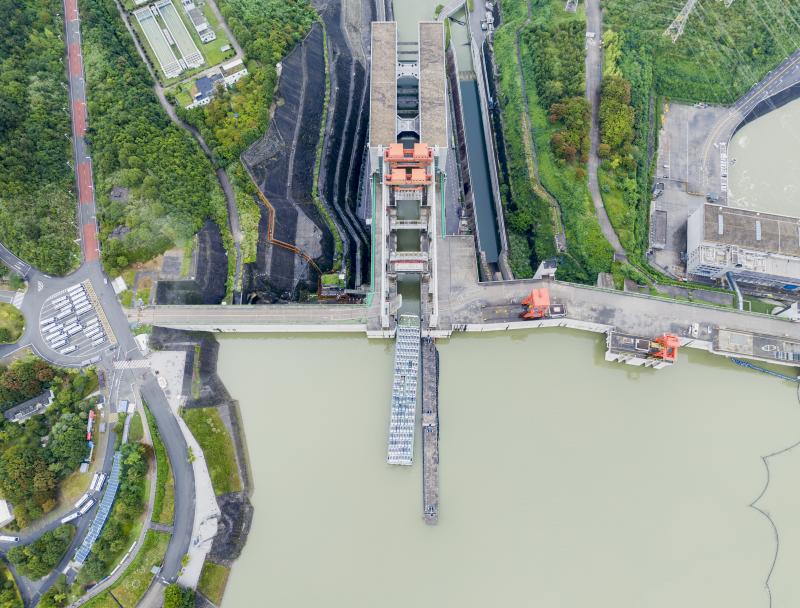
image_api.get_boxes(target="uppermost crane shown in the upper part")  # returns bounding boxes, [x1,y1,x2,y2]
[380,140,437,173]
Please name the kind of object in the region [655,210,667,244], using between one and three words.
building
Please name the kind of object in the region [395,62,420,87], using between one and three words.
bridge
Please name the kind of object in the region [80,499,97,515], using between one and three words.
vehicle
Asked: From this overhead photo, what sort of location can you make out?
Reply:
port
